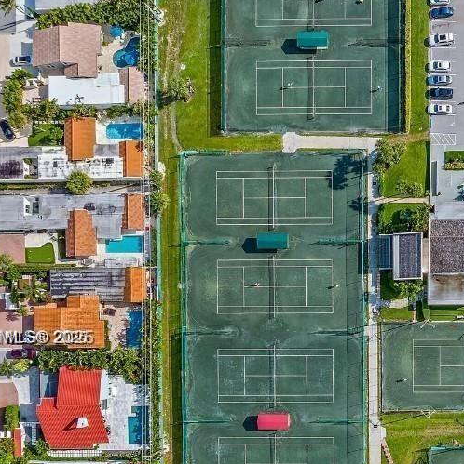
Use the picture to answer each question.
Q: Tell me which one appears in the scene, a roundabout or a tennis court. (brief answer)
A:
tennis court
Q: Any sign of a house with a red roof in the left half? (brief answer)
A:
Yes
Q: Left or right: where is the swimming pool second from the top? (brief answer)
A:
left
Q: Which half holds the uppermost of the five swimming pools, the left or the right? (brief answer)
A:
left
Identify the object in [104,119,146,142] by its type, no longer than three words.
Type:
swimming pool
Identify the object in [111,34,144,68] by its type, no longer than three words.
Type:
swimming pool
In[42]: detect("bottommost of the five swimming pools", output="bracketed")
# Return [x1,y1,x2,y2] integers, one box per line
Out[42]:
[126,404,145,446]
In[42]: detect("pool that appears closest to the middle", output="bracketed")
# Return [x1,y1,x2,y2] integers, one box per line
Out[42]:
[105,234,146,253]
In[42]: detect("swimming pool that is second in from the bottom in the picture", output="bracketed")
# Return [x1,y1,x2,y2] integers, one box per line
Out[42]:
[126,307,143,349]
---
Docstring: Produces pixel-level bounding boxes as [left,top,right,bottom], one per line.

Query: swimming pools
[126,307,143,349]
[111,34,144,68]
[105,234,146,253]
[104,119,146,142]
[126,404,145,446]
